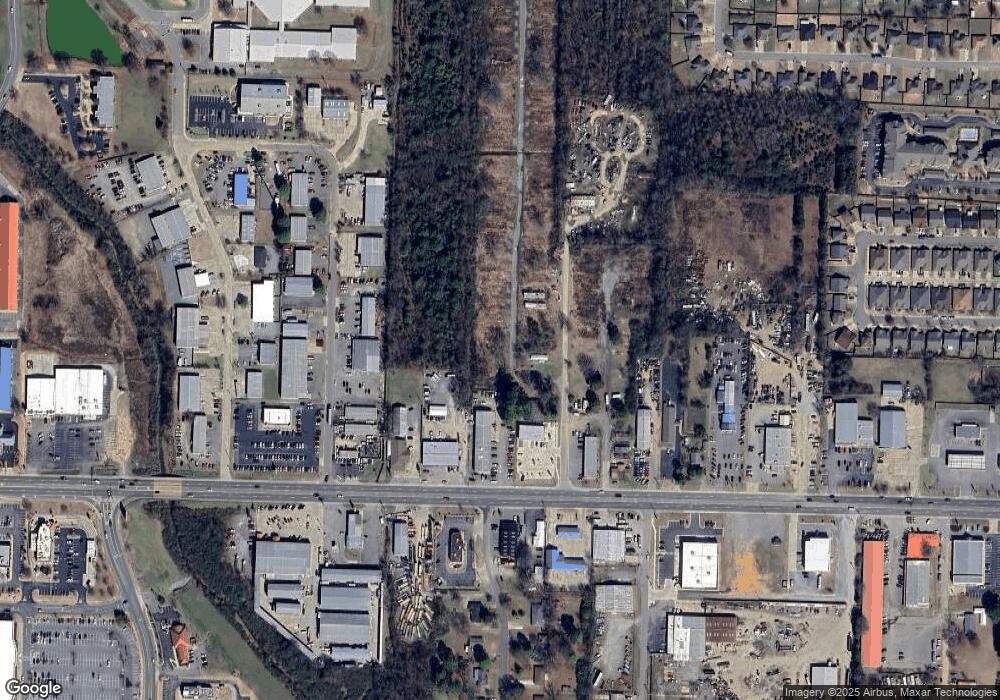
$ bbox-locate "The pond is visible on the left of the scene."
[47,0,121,65]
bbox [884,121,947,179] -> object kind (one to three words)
building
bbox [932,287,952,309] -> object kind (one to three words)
house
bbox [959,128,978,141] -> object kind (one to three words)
swimming pool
